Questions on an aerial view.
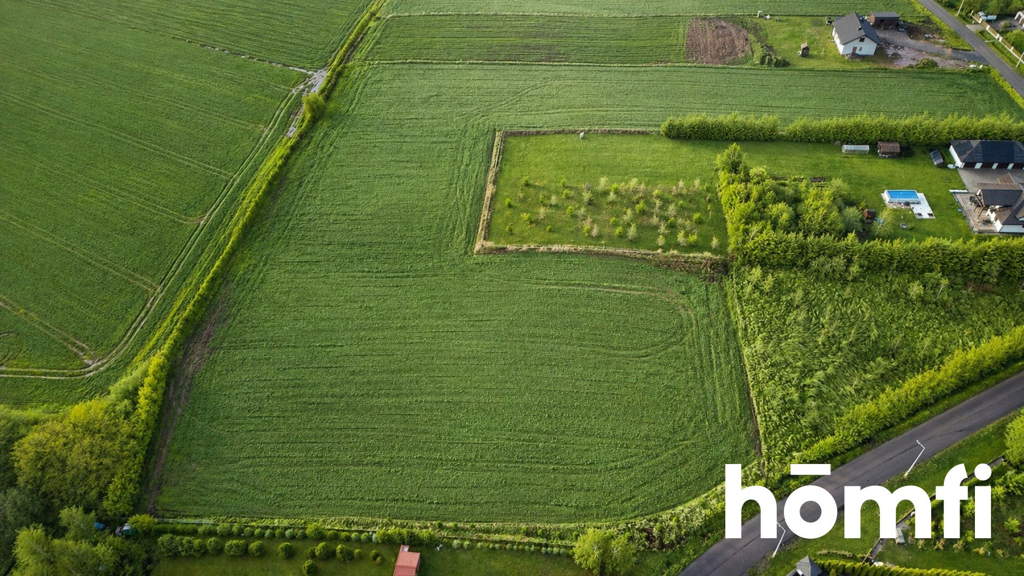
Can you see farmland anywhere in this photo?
Yes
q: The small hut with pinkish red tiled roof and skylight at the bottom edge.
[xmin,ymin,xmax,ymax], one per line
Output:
[391,544,423,576]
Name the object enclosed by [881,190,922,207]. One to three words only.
swimming pool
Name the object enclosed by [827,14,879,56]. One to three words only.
house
